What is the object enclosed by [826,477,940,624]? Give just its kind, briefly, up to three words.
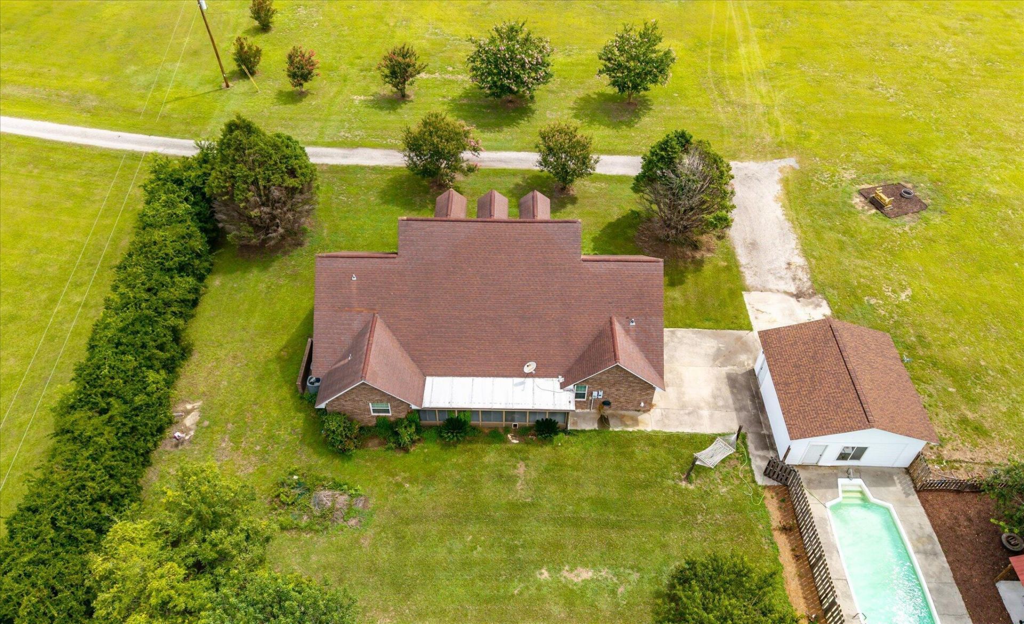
swimming pool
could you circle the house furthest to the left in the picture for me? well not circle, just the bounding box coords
[313,188,666,429]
